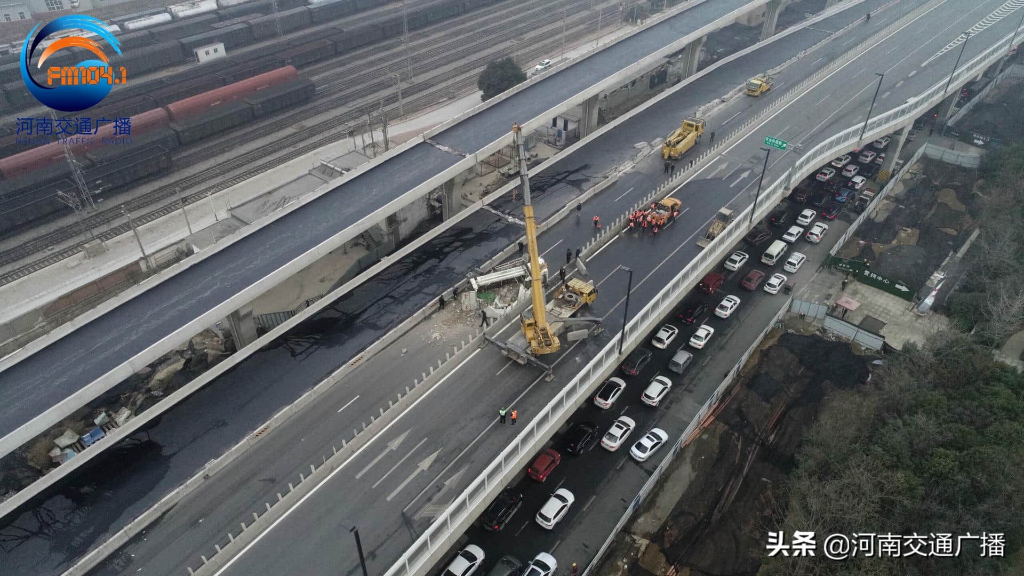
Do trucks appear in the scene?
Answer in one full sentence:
Yes, I can see a truck in this picture.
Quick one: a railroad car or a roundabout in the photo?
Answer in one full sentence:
This aerial view contains a railroad car.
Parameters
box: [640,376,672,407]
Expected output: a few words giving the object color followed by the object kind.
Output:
white car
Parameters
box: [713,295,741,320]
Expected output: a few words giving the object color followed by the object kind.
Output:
white car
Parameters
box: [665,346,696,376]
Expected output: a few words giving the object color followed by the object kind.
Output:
gray car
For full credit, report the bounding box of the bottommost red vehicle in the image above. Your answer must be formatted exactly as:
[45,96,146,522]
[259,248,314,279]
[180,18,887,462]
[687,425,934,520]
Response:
[525,447,563,484]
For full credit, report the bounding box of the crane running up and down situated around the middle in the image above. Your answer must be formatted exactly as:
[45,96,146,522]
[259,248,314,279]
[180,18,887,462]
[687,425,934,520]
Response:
[479,117,606,381]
